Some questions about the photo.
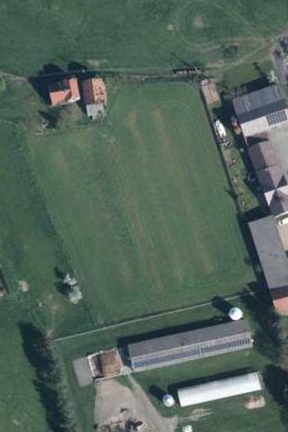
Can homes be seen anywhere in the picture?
Yes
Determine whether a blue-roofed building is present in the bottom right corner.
No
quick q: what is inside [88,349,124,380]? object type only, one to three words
building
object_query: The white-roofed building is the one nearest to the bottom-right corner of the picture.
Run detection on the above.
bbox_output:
[178,372,261,406]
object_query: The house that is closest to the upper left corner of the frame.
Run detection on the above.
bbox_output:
[49,77,80,105]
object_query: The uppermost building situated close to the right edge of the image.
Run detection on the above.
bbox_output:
[233,85,288,136]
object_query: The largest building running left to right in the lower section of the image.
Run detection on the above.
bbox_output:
[128,322,252,371]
